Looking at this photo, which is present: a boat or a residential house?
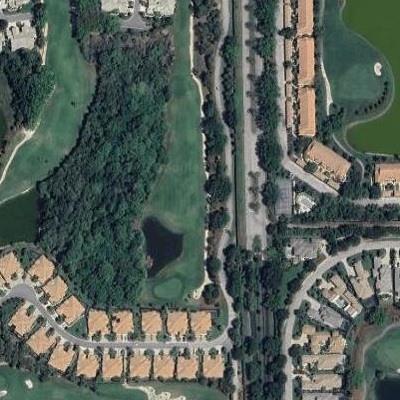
residential house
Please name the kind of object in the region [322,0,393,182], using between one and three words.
golf course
